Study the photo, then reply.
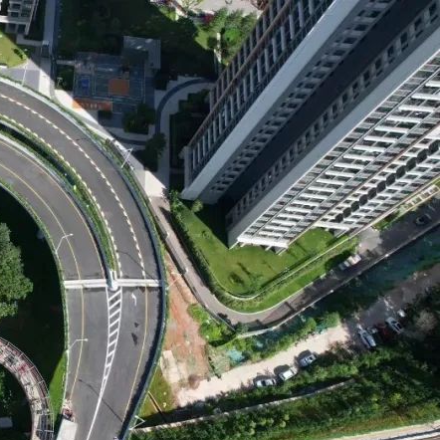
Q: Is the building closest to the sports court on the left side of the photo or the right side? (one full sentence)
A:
You can find the building closest to the sports court on the left side of the picture.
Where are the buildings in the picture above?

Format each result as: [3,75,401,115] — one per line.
[0,0,39,27]
[187,0,440,252]
[126,27,165,63]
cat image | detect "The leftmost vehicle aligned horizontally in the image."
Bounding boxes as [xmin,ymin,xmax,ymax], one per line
[254,375,278,387]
